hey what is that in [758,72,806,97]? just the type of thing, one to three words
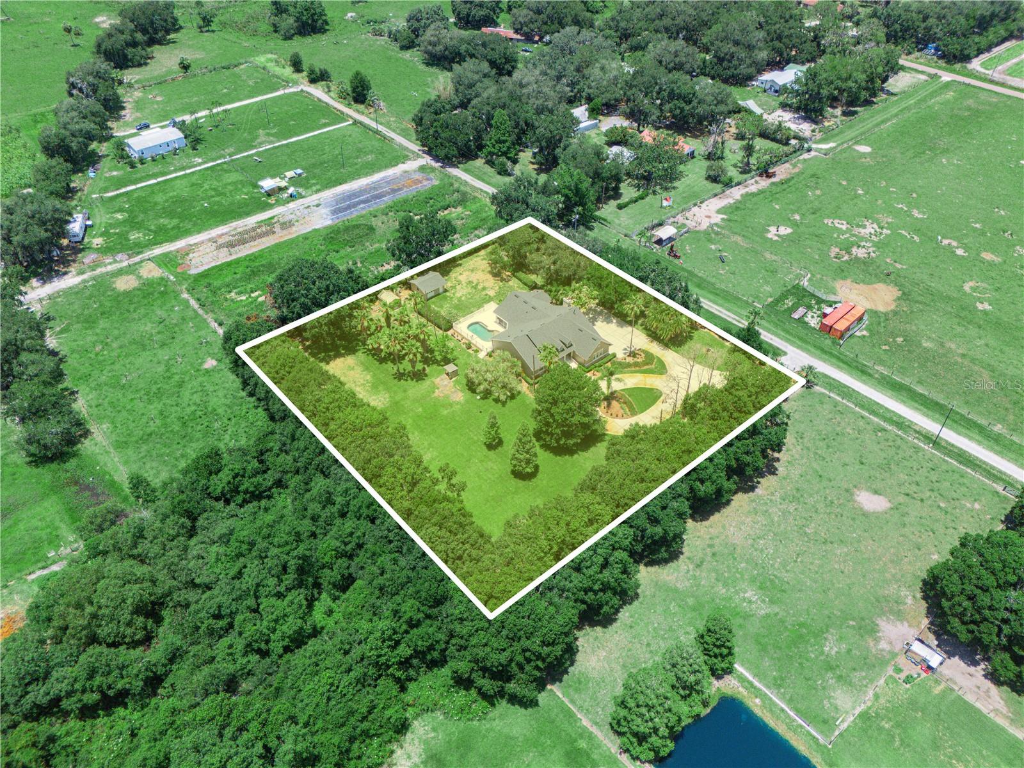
house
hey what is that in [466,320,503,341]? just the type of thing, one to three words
swimming pool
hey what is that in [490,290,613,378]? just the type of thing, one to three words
house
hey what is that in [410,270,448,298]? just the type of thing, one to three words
shed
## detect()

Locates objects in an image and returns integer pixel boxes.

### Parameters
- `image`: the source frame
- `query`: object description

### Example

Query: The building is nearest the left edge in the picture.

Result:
[125,130,185,159]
